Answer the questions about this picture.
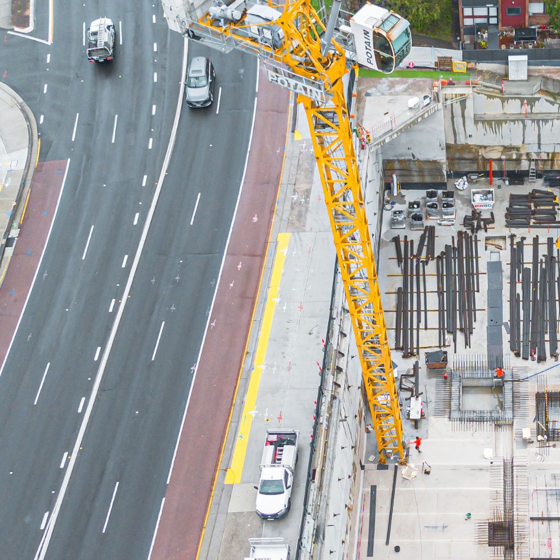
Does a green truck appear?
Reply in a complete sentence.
No, the scene contains no green truck.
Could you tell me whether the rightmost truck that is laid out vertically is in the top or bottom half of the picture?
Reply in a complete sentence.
You can find the rightmost truck that is laid out vertically in the bottom half.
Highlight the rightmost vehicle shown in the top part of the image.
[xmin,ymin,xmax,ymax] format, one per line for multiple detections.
[180,57,213,106]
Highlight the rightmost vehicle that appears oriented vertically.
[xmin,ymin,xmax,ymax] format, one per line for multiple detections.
[250,428,295,523]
